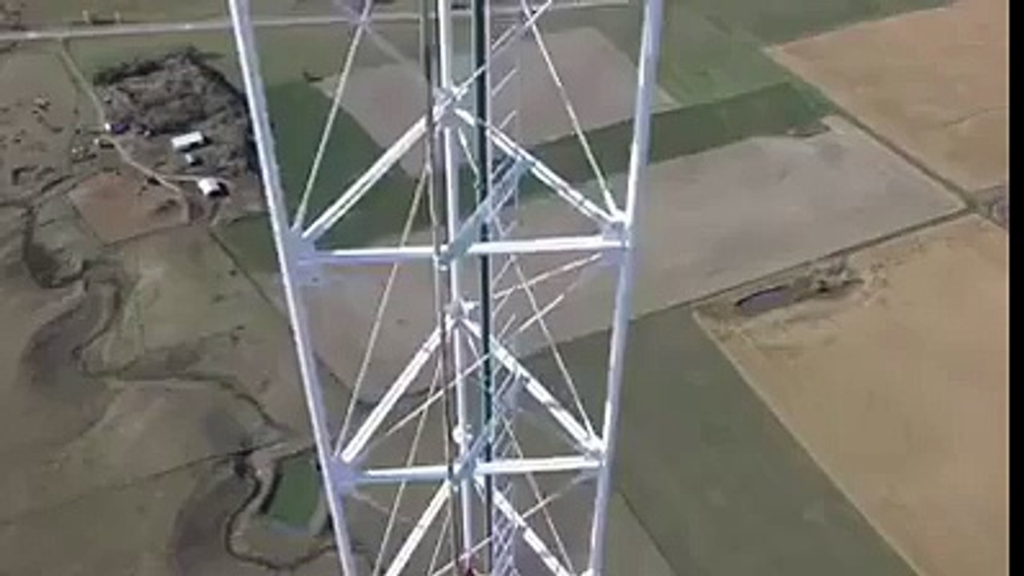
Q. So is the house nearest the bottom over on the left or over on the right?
left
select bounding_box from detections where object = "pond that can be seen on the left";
[272,461,320,530]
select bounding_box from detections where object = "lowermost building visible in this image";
[198,178,222,199]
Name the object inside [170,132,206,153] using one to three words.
barn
